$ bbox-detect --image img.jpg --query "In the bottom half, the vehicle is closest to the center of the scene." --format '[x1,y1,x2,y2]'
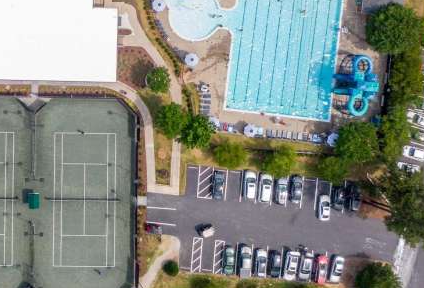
[211,170,226,198]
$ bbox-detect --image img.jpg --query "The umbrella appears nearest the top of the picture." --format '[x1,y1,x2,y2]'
[151,0,166,12]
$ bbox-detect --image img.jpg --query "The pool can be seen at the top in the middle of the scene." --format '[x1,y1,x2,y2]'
[164,0,346,124]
